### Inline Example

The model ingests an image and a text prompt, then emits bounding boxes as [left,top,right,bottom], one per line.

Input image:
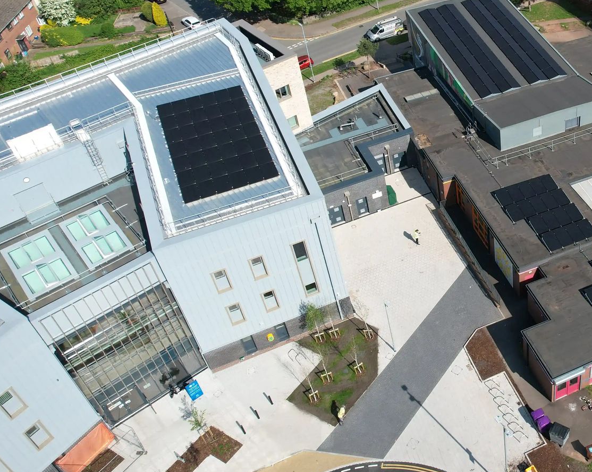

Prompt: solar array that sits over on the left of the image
[155,85,280,201]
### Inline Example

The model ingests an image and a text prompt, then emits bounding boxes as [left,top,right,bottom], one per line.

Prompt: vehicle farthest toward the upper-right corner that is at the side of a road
[367,13,407,40]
